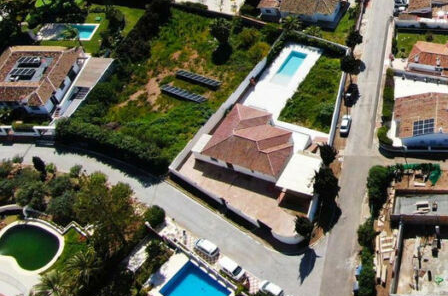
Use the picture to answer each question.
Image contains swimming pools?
Yes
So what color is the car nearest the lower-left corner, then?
white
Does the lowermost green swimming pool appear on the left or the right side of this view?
left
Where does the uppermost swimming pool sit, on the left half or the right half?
left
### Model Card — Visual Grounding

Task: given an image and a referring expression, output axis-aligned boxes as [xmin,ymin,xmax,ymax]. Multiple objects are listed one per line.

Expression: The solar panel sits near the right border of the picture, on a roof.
[413,118,434,135]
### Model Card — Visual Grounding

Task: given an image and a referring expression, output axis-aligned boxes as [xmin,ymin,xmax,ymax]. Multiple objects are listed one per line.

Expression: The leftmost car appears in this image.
[194,235,219,257]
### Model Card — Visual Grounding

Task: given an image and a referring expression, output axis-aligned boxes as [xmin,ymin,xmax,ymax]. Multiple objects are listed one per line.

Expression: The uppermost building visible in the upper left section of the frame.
[0,47,116,112]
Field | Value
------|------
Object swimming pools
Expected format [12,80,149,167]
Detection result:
[270,50,309,87]
[154,258,235,296]
[0,220,66,274]
[68,22,103,42]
